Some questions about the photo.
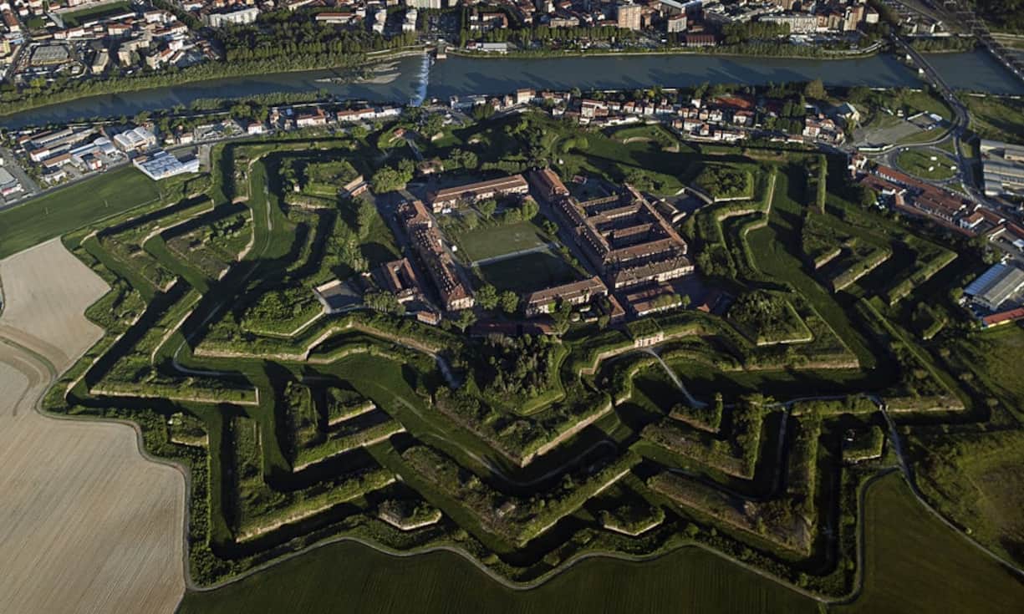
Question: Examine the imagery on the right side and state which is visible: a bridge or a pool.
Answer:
bridge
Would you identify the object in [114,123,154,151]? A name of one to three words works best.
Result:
building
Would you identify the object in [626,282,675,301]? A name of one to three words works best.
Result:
shed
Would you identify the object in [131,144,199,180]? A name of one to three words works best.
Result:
building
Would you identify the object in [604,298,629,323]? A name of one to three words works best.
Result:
shed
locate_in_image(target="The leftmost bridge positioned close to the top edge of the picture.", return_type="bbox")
[881,29,951,95]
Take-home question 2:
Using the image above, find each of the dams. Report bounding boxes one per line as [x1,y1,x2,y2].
[405,57,432,107]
